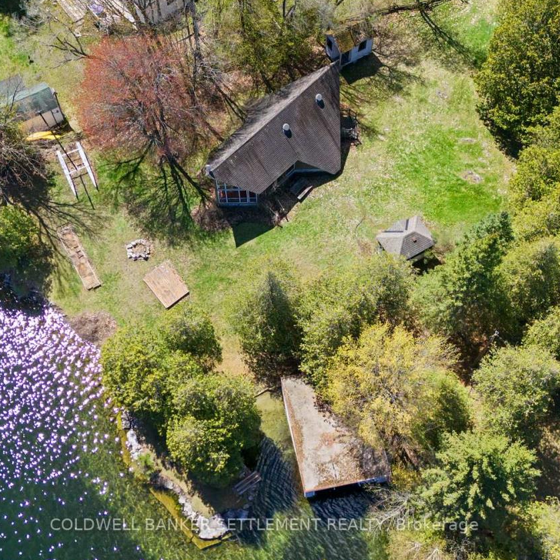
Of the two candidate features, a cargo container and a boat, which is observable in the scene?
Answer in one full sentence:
The one in the frame is a boat.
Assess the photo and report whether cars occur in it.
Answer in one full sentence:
No, the scene contains no car.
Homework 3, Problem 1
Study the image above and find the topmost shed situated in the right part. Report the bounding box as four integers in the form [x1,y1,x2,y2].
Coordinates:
[324,16,378,69]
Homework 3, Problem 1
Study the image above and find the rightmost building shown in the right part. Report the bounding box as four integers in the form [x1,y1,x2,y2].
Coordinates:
[380,215,434,266]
